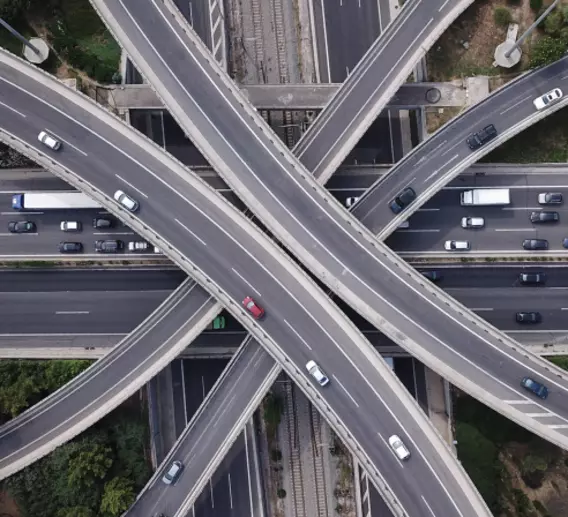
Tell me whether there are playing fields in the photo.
No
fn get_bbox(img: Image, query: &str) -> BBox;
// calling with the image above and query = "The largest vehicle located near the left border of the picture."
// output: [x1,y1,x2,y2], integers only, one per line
[12,192,103,211]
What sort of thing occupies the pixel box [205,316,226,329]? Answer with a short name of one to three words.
vehicle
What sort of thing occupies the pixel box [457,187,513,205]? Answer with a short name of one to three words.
vehicle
